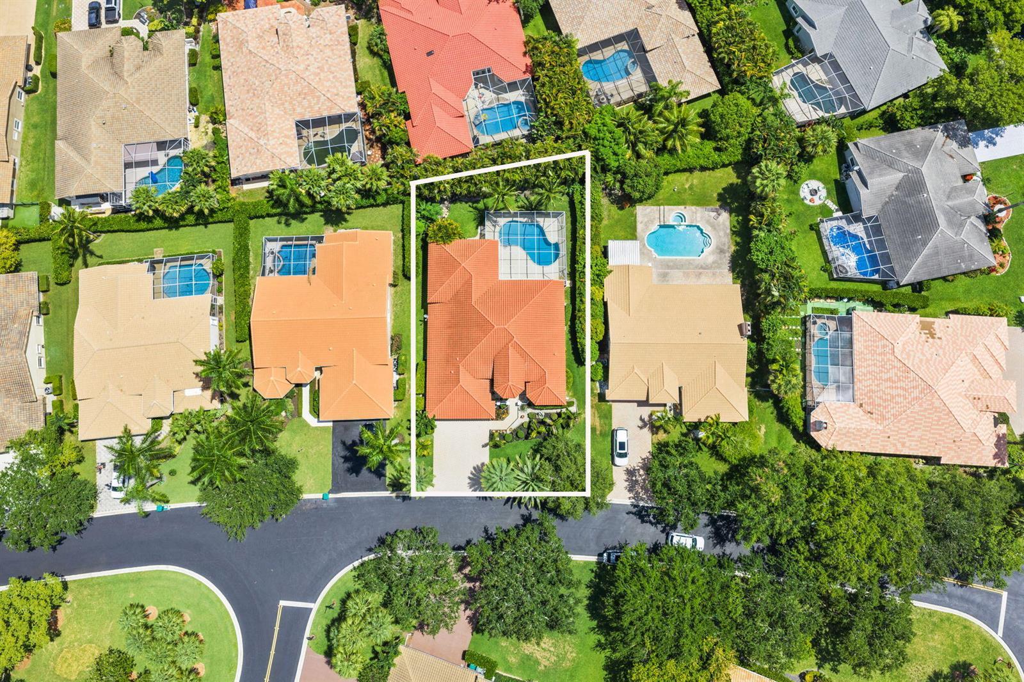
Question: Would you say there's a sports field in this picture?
No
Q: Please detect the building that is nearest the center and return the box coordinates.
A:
[423,239,566,419]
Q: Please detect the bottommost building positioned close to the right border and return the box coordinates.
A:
[800,311,1017,467]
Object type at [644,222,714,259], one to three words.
swimming pool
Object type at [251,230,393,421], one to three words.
house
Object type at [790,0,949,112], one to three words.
house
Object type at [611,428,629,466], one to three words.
car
